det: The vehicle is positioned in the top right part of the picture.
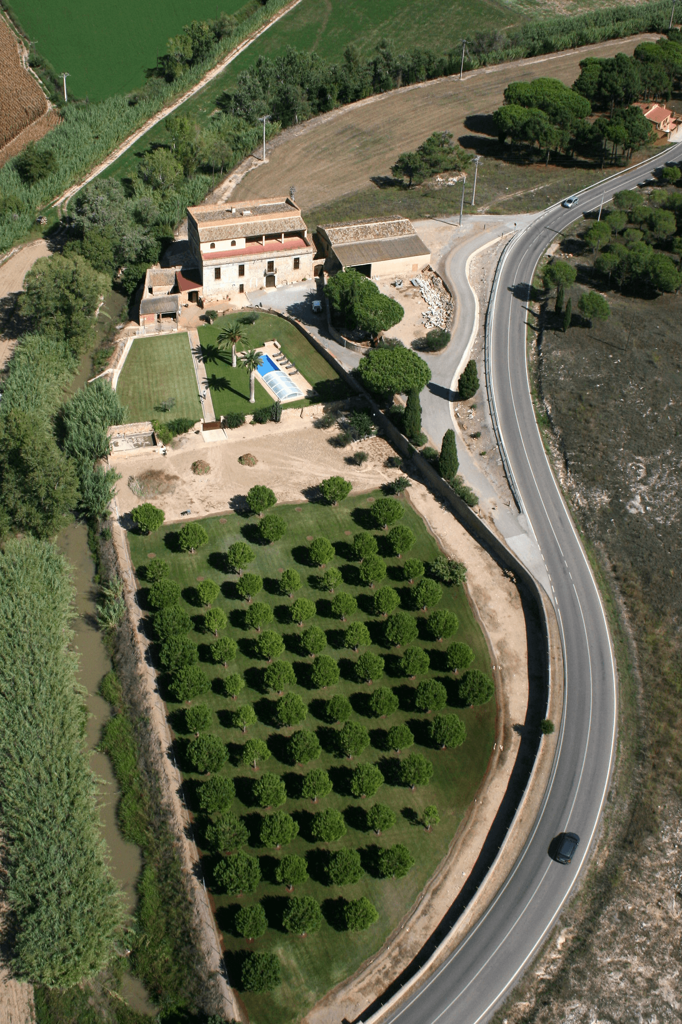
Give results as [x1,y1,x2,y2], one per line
[564,195,579,207]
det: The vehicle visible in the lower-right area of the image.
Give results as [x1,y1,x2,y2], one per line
[559,830,579,860]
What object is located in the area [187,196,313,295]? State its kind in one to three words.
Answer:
house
